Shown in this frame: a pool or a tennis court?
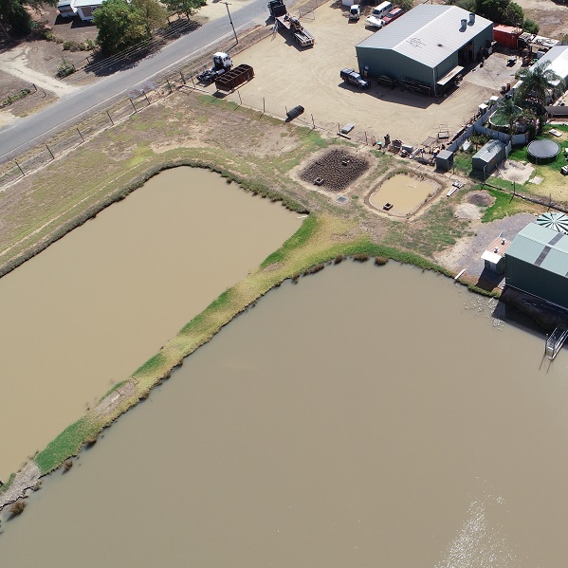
pool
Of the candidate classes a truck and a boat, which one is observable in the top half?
truck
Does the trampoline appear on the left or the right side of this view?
right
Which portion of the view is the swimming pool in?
top right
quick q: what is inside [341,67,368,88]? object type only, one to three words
truck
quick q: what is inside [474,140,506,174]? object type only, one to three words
shed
